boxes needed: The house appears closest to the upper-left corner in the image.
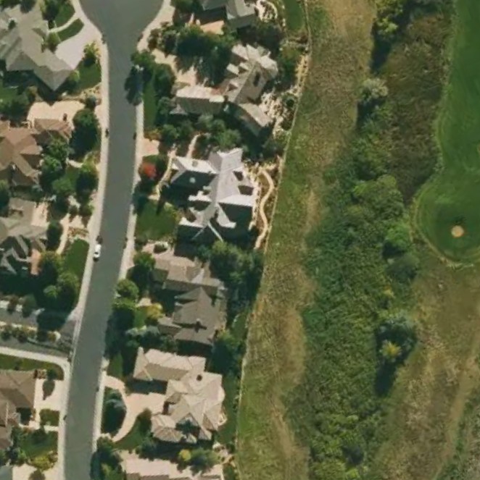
[0,0,70,92]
